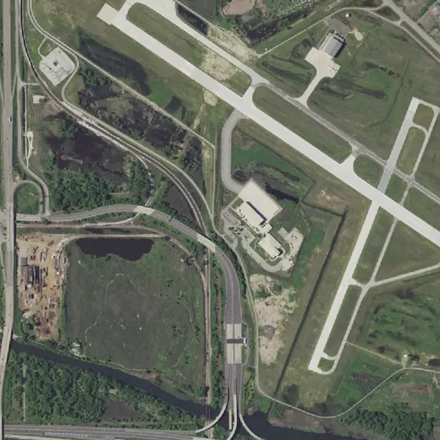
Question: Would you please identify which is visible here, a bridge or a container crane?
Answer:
bridge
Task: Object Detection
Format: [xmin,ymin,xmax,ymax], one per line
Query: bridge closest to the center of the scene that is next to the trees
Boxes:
[95,203,223,256]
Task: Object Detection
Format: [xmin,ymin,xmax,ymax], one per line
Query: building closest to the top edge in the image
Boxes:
[320,35,345,57]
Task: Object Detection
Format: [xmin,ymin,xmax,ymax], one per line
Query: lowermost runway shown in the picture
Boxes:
[308,200,378,372]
